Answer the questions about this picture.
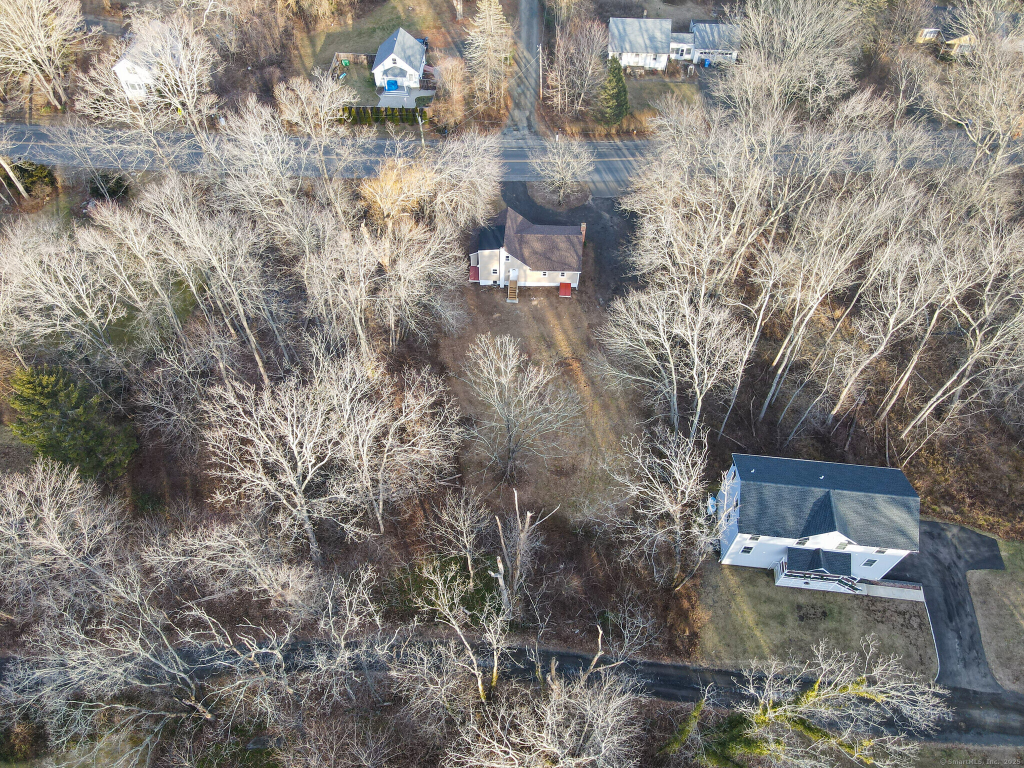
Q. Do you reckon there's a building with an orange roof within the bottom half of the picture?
No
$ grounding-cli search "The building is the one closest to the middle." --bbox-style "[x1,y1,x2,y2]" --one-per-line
[468,204,586,303]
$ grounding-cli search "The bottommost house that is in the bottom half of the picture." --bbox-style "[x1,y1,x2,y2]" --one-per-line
[716,454,921,594]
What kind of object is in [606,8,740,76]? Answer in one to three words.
house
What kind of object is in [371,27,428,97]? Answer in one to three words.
house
